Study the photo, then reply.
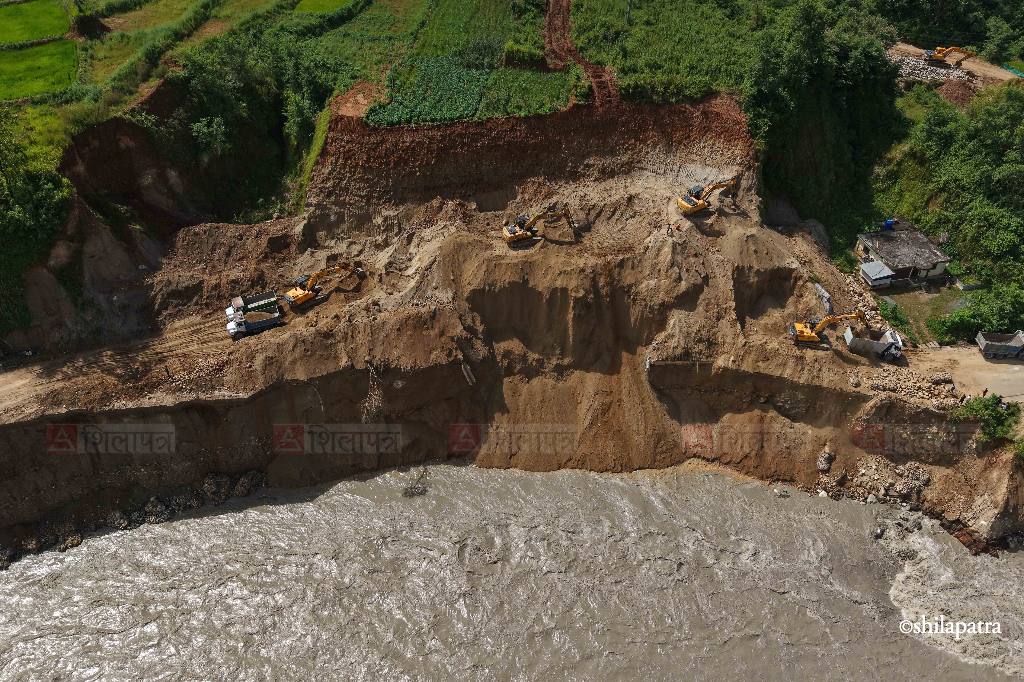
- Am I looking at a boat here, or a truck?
truck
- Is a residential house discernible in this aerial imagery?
Yes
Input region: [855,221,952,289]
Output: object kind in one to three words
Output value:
house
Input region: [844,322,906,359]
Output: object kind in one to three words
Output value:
truck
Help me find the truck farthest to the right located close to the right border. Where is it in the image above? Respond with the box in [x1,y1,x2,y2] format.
[978,329,1024,360]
